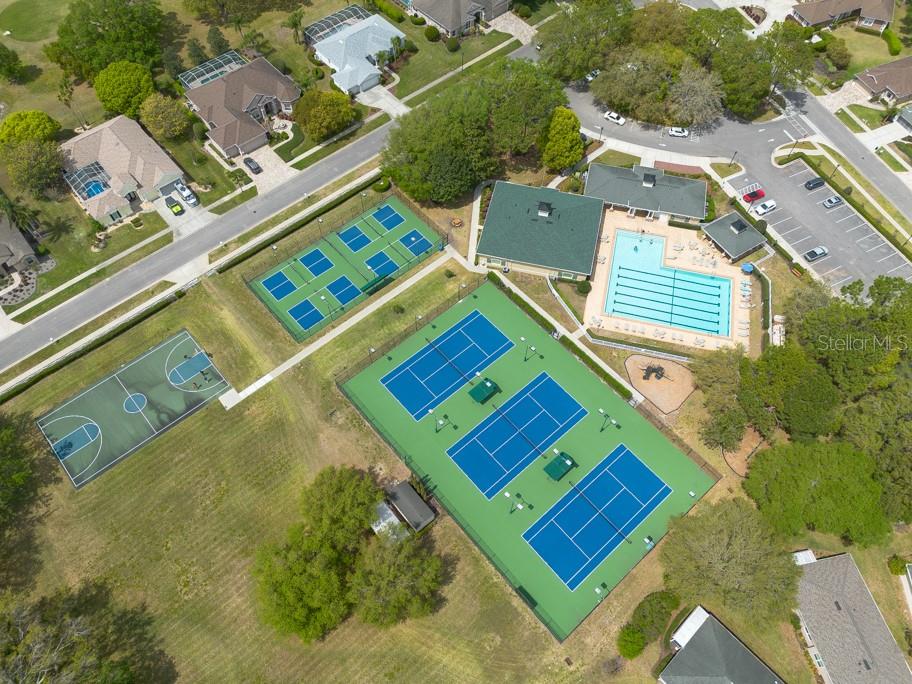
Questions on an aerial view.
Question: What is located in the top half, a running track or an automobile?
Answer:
automobile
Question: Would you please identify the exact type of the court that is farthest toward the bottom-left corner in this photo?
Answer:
basketball court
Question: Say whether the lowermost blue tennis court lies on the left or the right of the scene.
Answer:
right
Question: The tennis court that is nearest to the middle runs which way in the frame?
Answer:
on a diagonal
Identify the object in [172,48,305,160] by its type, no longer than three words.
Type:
house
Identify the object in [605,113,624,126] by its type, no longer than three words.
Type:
vehicle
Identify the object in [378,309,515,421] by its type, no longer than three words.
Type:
tennis court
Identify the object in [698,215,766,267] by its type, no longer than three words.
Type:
building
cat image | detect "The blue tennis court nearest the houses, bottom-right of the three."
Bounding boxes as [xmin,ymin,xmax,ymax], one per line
[519,444,671,592]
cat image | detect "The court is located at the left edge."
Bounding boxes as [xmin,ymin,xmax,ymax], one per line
[32,327,231,490]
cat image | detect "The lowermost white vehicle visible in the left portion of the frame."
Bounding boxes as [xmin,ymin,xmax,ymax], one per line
[176,183,194,204]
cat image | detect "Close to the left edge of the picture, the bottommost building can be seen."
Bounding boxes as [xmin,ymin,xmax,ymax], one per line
[0,202,42,293]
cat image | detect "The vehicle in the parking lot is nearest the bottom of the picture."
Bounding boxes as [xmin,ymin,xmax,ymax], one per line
[801,248,828,264]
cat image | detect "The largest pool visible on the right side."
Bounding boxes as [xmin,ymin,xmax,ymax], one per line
[601,229,733,339]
